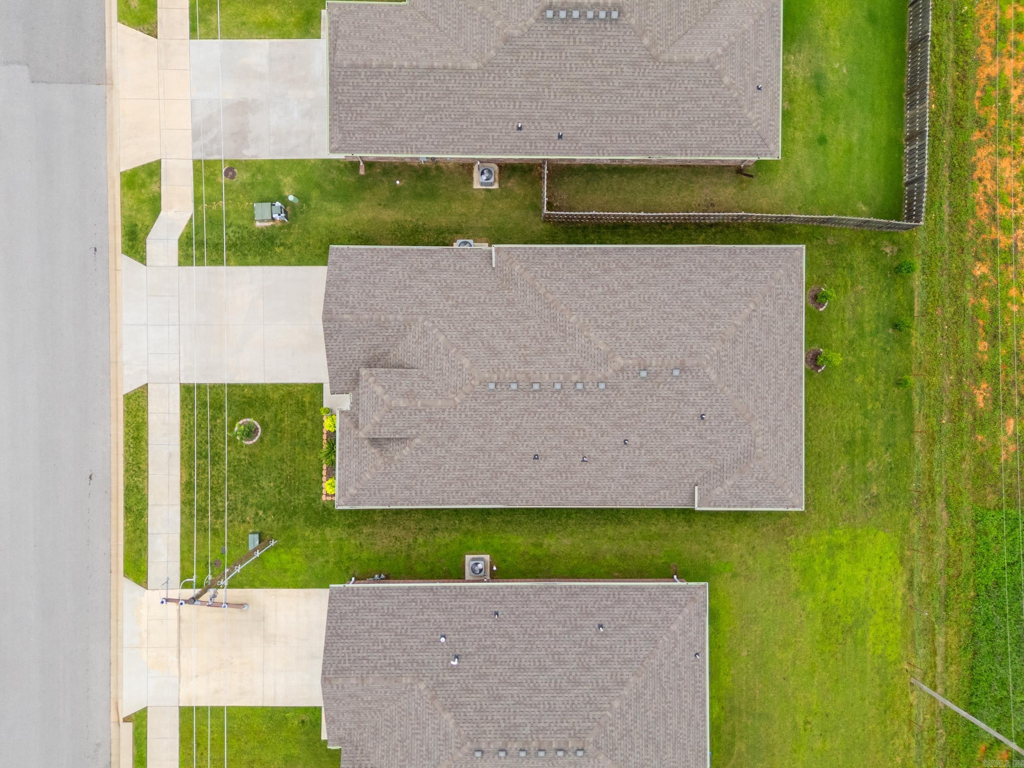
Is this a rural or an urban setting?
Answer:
urban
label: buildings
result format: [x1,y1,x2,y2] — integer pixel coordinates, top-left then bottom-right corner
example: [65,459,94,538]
[320,244,806,510]
[332,0,782,168]
[319,570,708,768]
